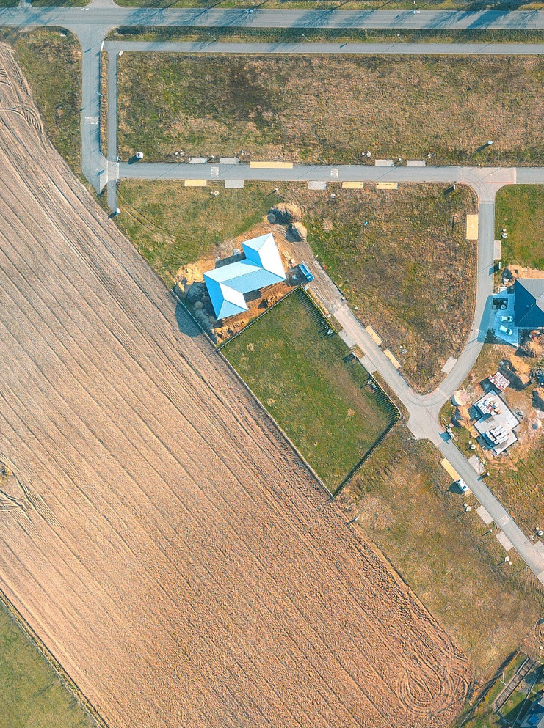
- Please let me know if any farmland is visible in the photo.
Yes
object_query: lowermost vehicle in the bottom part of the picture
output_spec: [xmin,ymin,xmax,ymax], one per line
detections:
[456,479,469,494]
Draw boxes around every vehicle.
[456,479,469,494]
[500,316,513,322]
[499,324,512,336]
[296,261,313,282]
